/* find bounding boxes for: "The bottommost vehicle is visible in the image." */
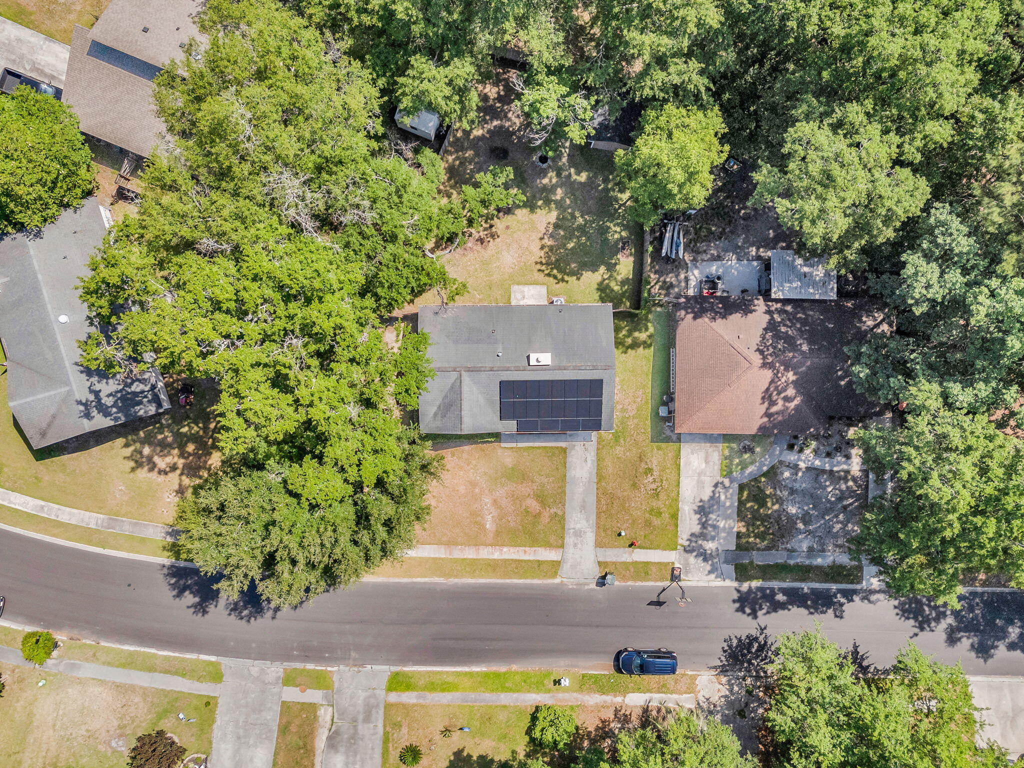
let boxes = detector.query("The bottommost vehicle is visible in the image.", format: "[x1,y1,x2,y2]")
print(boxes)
[613,647,677,679]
